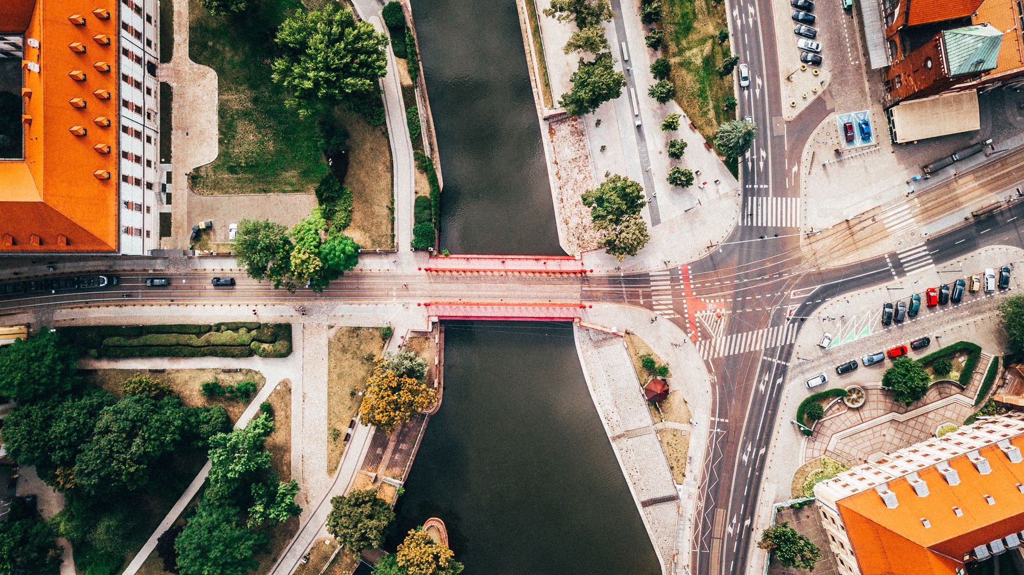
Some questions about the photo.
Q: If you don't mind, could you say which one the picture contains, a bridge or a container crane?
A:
bridge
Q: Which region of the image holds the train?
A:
left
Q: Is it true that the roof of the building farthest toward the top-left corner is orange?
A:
Yes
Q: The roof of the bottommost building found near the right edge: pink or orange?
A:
orange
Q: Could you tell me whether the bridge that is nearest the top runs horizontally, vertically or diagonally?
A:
horizontally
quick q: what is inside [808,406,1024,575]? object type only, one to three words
building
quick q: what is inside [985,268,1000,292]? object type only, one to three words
vehicle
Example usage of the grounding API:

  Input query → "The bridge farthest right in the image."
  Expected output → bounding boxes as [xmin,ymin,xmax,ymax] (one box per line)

[416,254,595,322]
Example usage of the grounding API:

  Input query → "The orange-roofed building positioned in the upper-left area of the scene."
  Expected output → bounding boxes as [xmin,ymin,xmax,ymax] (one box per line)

[0,0,164,254]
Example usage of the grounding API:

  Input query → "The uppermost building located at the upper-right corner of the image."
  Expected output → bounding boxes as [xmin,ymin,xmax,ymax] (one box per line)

[874,0,1024,109]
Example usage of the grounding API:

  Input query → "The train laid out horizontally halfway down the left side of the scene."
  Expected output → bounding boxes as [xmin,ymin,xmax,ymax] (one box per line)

[0,276,122,298]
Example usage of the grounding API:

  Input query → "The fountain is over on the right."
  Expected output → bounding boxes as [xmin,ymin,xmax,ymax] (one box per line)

[844,386,867,408]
